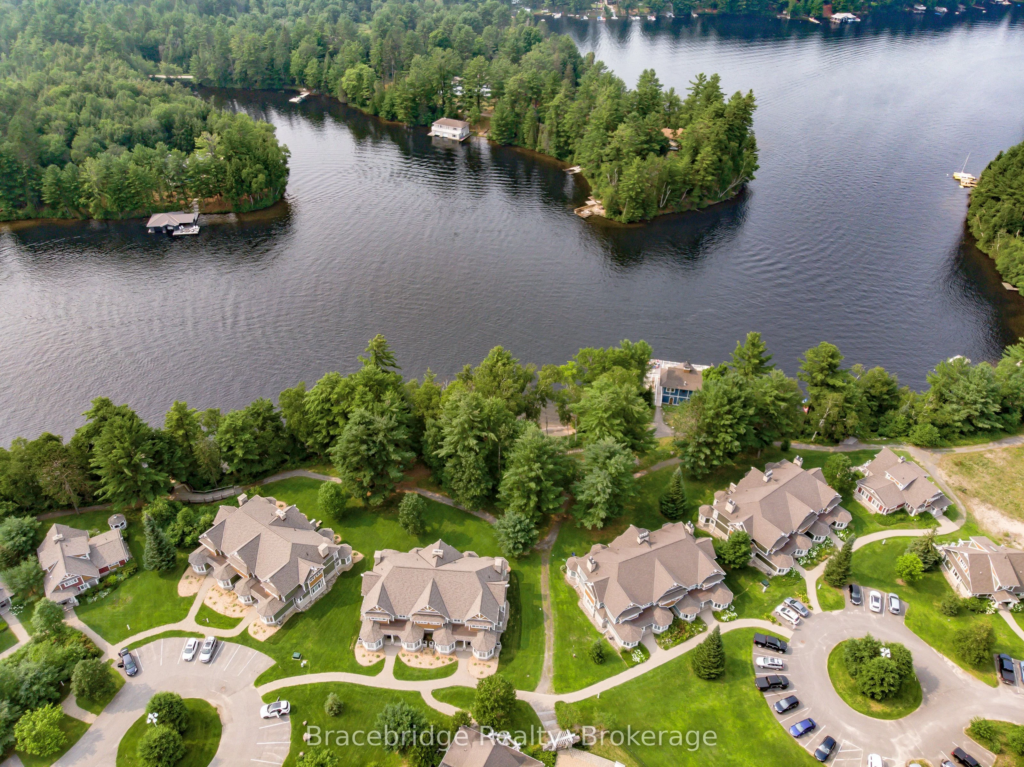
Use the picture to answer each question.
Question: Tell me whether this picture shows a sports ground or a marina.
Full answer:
The area seen from above is a marina.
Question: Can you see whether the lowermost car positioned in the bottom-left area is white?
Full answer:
Yes, the lowermost car positioned in the bottom-left area appears white.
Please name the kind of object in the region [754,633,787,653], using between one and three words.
vehicle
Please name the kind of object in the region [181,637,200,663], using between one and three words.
car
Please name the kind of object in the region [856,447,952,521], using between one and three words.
house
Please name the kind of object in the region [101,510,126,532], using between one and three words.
gazebo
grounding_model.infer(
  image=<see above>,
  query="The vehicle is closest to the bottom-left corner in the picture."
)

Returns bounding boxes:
[115,647,138,677]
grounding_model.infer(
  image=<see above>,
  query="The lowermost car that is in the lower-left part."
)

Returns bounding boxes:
[261,697,290,721]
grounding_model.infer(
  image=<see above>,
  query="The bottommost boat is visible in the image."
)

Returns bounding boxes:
[944,354,971,366]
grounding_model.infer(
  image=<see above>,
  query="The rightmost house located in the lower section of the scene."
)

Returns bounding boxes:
[944,533,1024,612]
